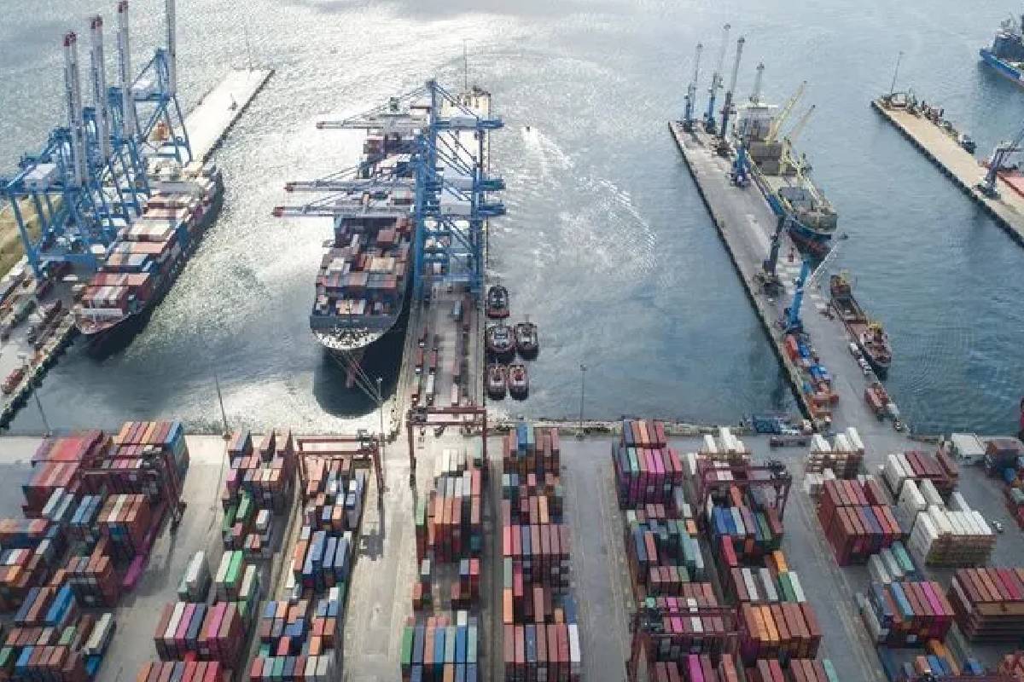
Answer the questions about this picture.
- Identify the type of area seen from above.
port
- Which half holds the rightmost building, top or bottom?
bottom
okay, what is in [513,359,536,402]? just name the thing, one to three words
boat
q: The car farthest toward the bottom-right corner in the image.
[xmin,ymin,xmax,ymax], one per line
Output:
[991,520,1006,532]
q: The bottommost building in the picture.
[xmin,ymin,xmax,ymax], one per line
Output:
[947,437,996,474]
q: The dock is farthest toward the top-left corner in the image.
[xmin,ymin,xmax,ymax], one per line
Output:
[0,69,274,434]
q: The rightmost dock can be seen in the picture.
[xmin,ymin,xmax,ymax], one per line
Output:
[870,95,1024,261]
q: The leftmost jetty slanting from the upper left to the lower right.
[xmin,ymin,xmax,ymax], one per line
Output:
[669,123,907,430]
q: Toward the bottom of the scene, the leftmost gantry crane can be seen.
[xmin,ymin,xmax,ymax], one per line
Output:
[64,454,185,536]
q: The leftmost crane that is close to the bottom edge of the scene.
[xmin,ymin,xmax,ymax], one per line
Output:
[631,617,753,682]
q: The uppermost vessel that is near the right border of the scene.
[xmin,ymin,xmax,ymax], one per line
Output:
[979,35,1024,94]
